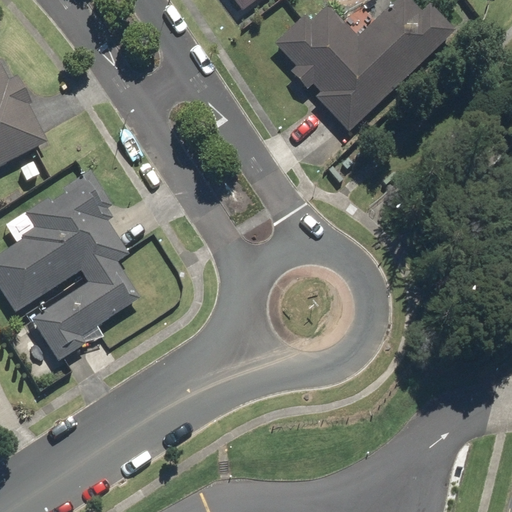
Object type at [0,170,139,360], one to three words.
house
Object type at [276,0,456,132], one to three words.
house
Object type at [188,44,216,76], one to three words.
car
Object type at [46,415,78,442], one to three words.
car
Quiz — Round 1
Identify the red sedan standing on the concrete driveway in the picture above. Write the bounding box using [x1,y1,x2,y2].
[289,114,320,144]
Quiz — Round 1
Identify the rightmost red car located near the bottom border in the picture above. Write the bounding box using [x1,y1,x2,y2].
[80,477,112,503]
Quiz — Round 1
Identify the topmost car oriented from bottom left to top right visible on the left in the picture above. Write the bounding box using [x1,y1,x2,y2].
[119,222,148,247]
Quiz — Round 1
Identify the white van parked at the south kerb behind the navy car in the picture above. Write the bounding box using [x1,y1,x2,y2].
[118,449,153,477]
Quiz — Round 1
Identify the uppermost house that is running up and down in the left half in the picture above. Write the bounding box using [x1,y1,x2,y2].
[0,62,48,166]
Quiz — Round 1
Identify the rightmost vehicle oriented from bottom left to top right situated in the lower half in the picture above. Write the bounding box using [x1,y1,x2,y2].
[160,420,194,447]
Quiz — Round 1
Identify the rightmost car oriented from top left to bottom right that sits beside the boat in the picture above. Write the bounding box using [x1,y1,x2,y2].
[138,160,163,190]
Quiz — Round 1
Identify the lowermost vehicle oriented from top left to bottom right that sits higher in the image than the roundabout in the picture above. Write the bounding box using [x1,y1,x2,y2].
[298,212,326,240]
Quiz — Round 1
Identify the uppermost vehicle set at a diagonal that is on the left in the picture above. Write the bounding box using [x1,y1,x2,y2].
[162,0,188,36]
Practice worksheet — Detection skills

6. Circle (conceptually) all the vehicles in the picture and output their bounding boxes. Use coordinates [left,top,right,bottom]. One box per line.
[289,114,320,144]
[138,160,163,190]
[80,477,112,503]
[188,44,216,76]
[46,498,76,512]
[46,415,78,442]
[298,212,326,240]
[162,0,188,36]
[119,222,148,247]
[118,449,153,477]
[160,420,194,447]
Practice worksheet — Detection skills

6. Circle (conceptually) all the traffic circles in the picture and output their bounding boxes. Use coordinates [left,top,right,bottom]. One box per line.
[268,265,354,351]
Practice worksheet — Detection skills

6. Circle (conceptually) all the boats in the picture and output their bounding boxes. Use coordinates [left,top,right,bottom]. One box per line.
[122,128,144,164]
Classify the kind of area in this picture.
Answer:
residential area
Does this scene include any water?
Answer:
No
